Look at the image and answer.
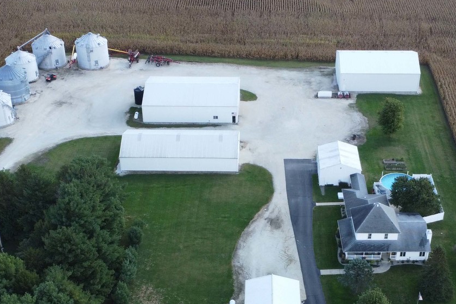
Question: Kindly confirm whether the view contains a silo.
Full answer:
Yes, a silo is visible in the scene.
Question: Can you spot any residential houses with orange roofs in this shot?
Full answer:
No, there's no residential house with an orange roof here.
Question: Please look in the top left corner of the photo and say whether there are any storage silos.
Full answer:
Yes, a storage silo shows up in the top left corner of the photo.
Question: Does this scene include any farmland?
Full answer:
Yes, farmland can be seen from above here.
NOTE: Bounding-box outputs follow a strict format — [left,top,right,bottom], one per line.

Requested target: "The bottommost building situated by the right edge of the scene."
[335,171,434,262]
